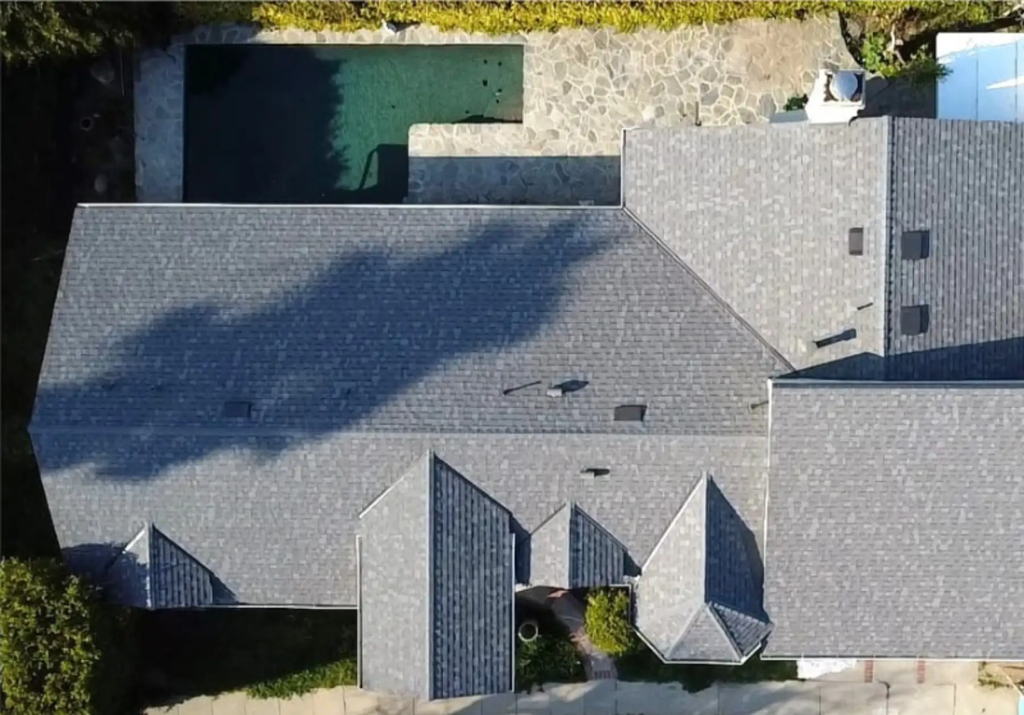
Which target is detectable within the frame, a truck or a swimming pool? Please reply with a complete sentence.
This aerial view contains a swimming pool.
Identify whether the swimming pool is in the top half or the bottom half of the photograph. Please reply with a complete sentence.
The top half of the photo is where the swimming pool is.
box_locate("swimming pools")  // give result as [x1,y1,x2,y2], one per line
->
[184,44,523,203]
